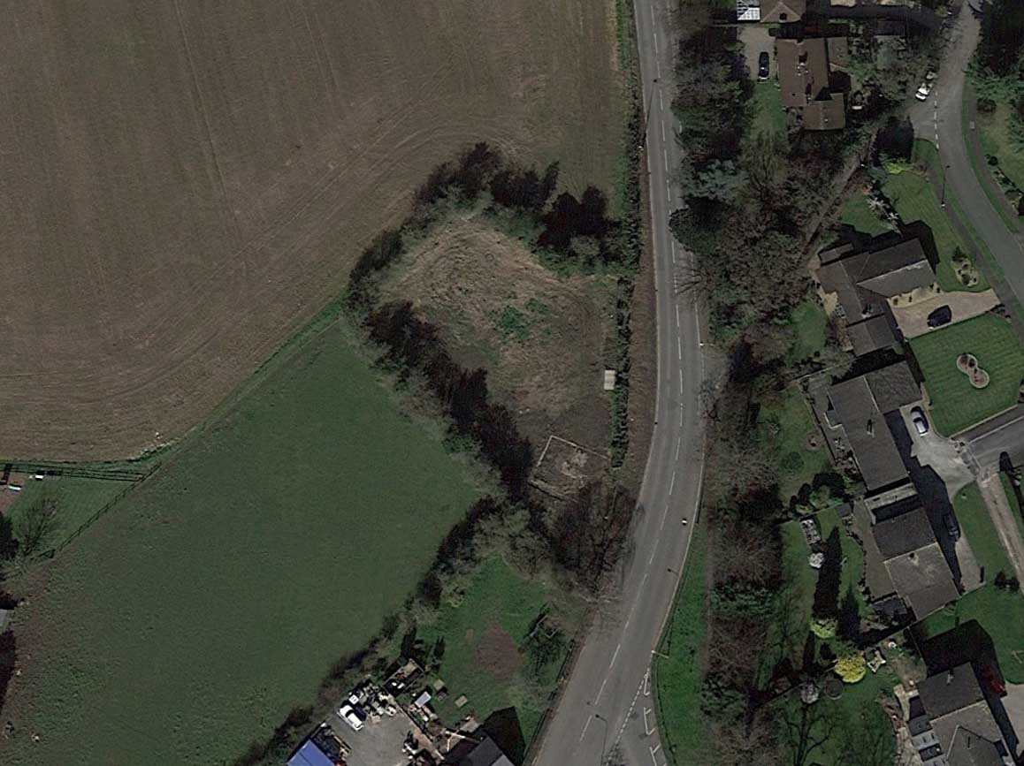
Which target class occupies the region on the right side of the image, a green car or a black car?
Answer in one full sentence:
Visible on the right side of the image is a black car.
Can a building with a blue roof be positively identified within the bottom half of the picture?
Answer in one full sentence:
Yes, a building with a blue roof appears within the bottom half of the picture.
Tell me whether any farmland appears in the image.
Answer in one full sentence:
Yes, the picture does contain farmland.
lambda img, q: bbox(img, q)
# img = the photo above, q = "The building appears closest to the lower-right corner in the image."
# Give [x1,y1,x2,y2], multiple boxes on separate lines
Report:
[910,665,1018,766]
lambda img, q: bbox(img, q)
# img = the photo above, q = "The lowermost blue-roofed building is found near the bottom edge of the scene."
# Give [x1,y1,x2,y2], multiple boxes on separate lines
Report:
[282,735,338,766]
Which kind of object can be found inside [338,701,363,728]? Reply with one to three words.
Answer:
car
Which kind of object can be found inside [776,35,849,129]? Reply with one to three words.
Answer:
house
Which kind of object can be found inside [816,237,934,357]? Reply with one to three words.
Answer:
house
